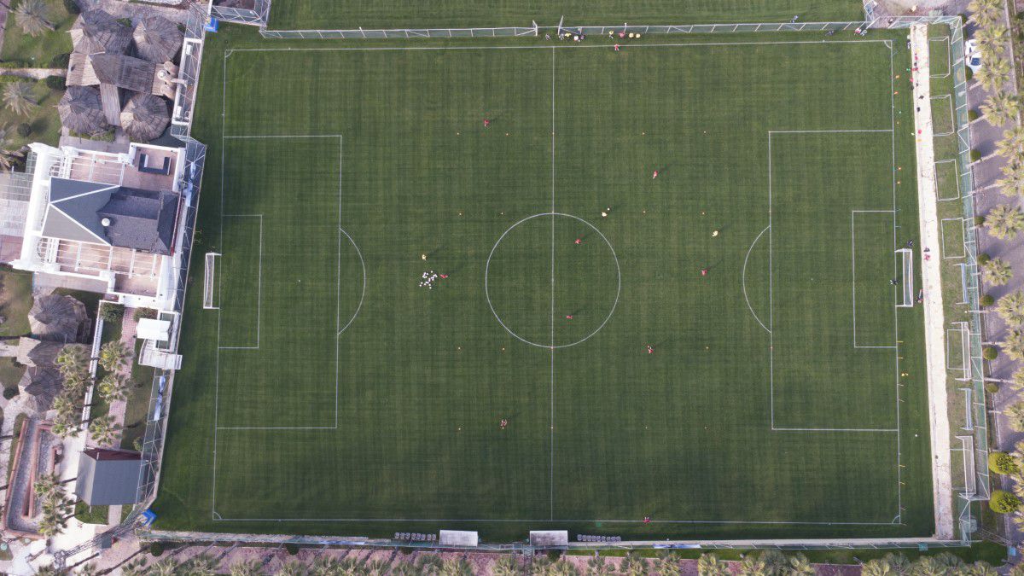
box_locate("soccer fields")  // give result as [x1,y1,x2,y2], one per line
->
[147,21,935,544]
[267,0,864,37]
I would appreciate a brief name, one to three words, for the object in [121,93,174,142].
shed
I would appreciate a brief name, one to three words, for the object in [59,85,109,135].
shed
